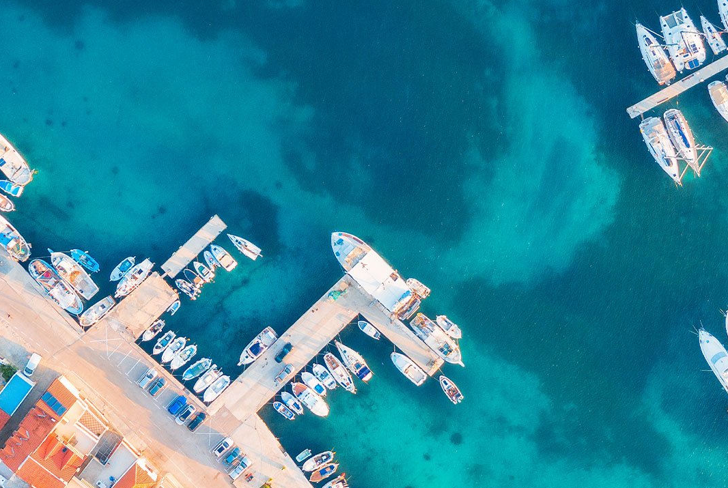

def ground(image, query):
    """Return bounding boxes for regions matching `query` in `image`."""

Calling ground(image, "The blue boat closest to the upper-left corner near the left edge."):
[0,179,25,197]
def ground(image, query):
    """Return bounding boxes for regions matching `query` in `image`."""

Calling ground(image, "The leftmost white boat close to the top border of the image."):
[624,9,681,93]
